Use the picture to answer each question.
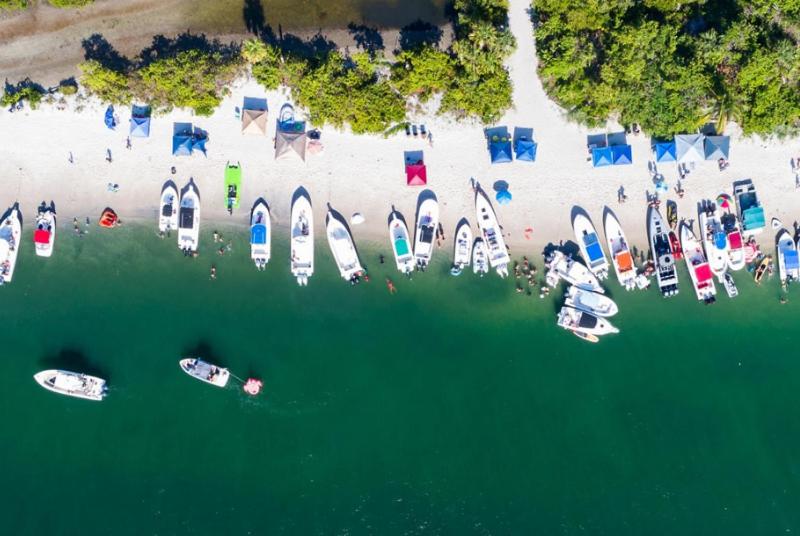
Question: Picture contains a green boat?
Yes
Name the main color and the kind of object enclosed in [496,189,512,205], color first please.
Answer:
blue umbrella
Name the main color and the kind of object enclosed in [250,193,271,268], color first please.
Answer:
white boat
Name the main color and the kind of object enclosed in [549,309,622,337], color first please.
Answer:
white boat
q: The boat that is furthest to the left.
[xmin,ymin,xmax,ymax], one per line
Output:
[0,171,24,290]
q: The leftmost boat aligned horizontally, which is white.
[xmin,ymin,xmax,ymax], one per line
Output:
[33,371,116,402]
